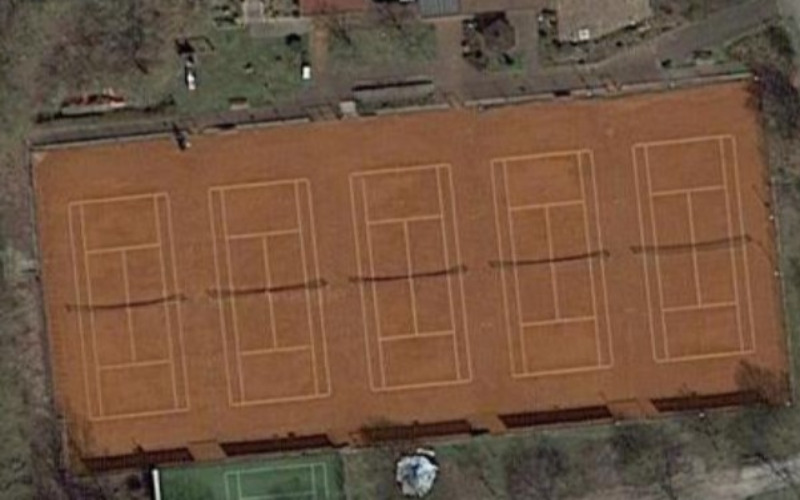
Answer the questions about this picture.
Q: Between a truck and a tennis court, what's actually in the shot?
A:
tennis court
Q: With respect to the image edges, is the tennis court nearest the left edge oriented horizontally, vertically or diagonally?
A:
vertically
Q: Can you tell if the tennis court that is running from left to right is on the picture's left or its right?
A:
left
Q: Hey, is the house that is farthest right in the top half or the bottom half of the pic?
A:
top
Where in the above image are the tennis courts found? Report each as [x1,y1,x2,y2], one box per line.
[62,186,195,426]
[344,158,477,397]
[486,143,618,383]
[203,172,336,412]
[160,457,347,500]
[627,129,760,368]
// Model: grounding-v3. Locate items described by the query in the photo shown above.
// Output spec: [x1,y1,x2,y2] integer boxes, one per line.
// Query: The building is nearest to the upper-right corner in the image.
[555,0,653,43]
